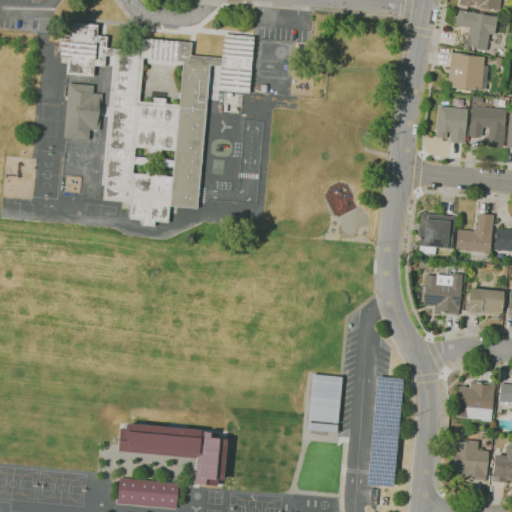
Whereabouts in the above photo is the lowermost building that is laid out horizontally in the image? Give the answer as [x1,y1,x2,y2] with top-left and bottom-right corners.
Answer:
[116,480,178,509]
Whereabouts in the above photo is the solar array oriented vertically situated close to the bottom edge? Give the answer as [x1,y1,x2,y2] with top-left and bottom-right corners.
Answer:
[368,377,402,486]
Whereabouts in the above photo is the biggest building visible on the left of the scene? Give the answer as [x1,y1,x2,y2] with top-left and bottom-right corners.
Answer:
[102,39,222,226]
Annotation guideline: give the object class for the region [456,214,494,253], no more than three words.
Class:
house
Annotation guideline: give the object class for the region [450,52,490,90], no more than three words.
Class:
house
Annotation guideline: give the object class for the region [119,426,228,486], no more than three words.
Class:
building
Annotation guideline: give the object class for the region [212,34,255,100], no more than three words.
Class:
building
